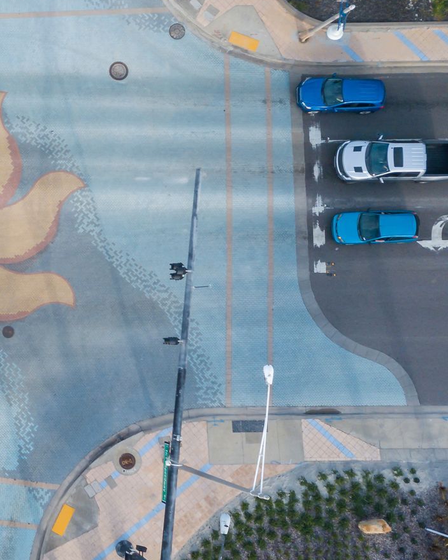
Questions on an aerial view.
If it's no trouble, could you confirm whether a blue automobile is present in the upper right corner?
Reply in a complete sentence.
Yes, a blue automobile appears in the upper right corner.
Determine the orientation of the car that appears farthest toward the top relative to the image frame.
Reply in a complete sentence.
The car that appears farthest toward the top has been laid out from left to right relative to the frame.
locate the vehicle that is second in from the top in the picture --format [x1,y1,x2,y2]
[331,134,448,186]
